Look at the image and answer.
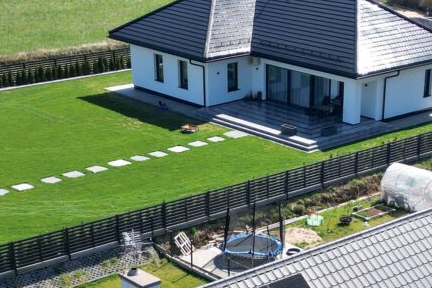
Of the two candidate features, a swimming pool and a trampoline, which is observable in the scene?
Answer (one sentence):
The image shows a trampoline.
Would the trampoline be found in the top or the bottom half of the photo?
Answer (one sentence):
You can find the trampoline in the bottom half.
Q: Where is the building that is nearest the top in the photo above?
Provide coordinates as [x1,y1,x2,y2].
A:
[107,0,432,151]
